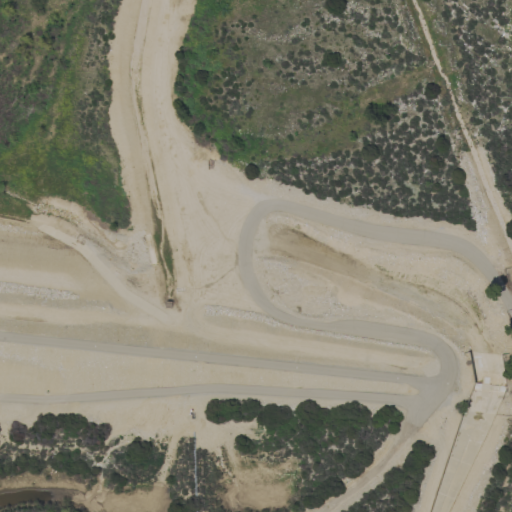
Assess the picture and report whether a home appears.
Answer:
No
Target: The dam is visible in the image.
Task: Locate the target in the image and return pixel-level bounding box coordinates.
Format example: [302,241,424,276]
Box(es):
[0,286,440,404]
